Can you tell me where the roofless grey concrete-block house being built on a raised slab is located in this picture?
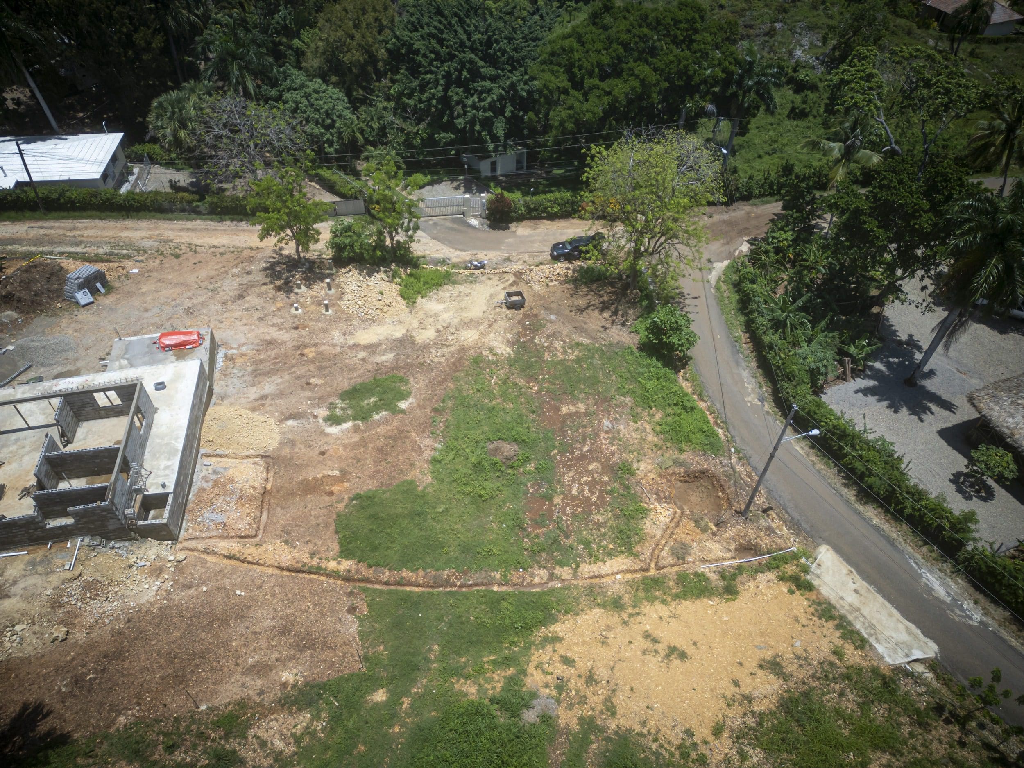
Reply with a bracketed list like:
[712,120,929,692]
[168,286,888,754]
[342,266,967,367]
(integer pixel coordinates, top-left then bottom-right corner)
[0,321,218,556]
